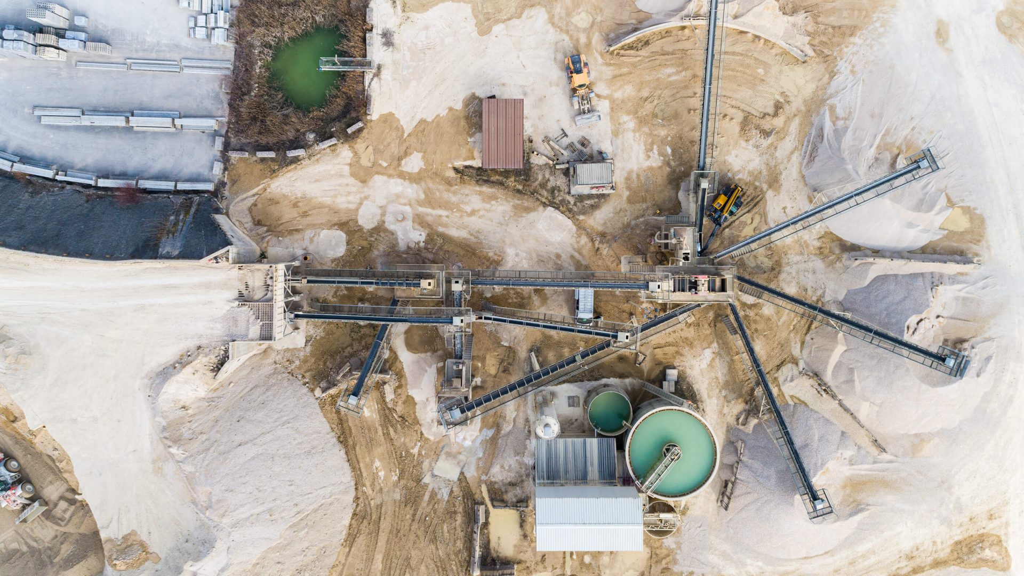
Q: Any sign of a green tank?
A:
Yes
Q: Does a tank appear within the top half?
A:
No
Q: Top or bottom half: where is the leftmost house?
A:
bottom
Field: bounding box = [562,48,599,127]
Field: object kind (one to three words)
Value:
work vehicle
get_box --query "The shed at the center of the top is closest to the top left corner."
[482,98,523,172]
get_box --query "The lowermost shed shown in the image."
[535,483,644,551]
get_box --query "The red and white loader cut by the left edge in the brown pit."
[0,456,48,525]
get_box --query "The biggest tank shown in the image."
[617,380,720,503]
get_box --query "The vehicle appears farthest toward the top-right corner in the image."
[706,183,748,248]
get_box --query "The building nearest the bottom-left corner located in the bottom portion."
[437,355,472,445]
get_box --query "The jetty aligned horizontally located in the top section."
[318,56,373,74]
